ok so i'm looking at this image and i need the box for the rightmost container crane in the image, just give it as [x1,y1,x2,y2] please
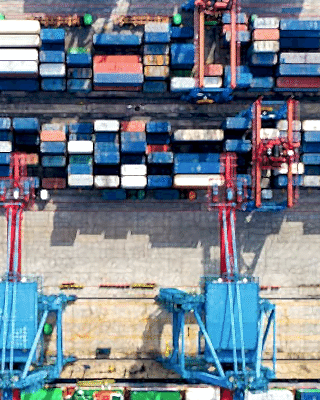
[240,93,297,216]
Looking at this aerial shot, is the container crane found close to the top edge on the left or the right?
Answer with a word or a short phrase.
right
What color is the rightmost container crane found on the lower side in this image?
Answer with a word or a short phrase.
blue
